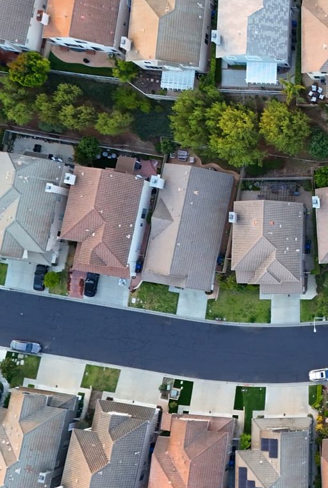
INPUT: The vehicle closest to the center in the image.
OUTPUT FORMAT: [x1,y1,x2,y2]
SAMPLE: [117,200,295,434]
[85,280,99,297]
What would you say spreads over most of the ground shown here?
buildings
